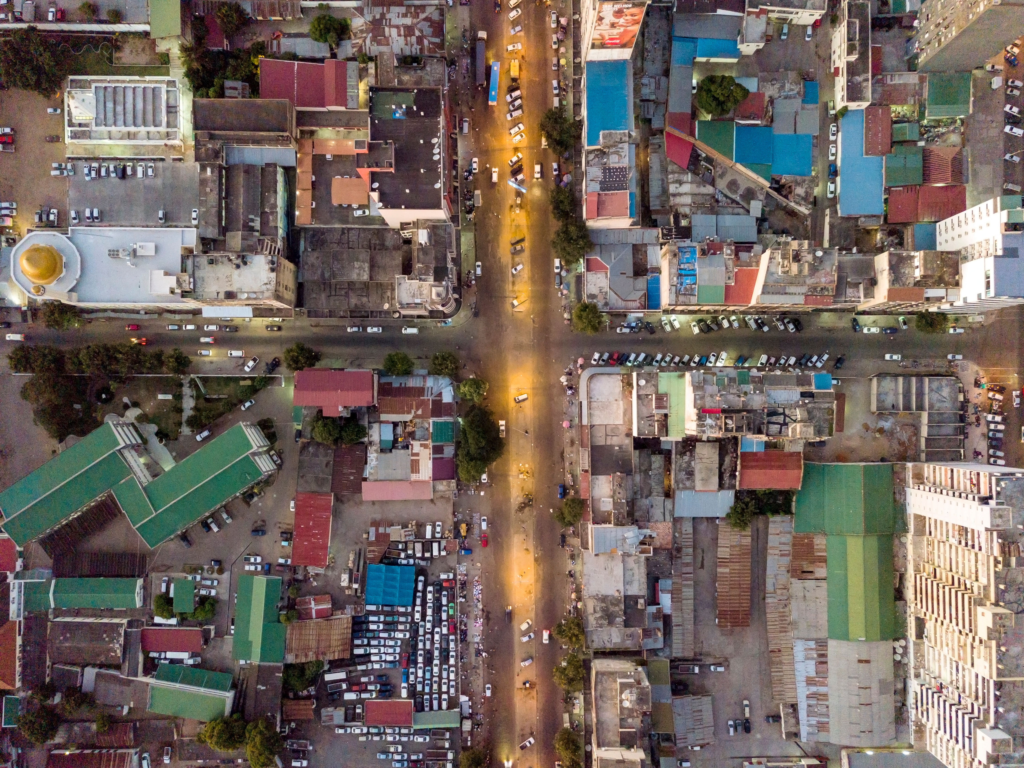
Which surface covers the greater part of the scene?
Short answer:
buildings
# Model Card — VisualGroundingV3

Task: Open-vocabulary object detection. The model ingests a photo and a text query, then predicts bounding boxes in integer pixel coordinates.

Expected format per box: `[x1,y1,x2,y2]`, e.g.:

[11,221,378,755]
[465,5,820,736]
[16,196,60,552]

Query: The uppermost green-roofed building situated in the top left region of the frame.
[148,0,188,45]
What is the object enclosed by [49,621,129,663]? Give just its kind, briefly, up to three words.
building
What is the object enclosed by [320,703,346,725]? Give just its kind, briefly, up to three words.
shed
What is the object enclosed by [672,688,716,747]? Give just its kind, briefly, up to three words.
building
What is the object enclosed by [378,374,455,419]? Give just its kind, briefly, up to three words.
house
